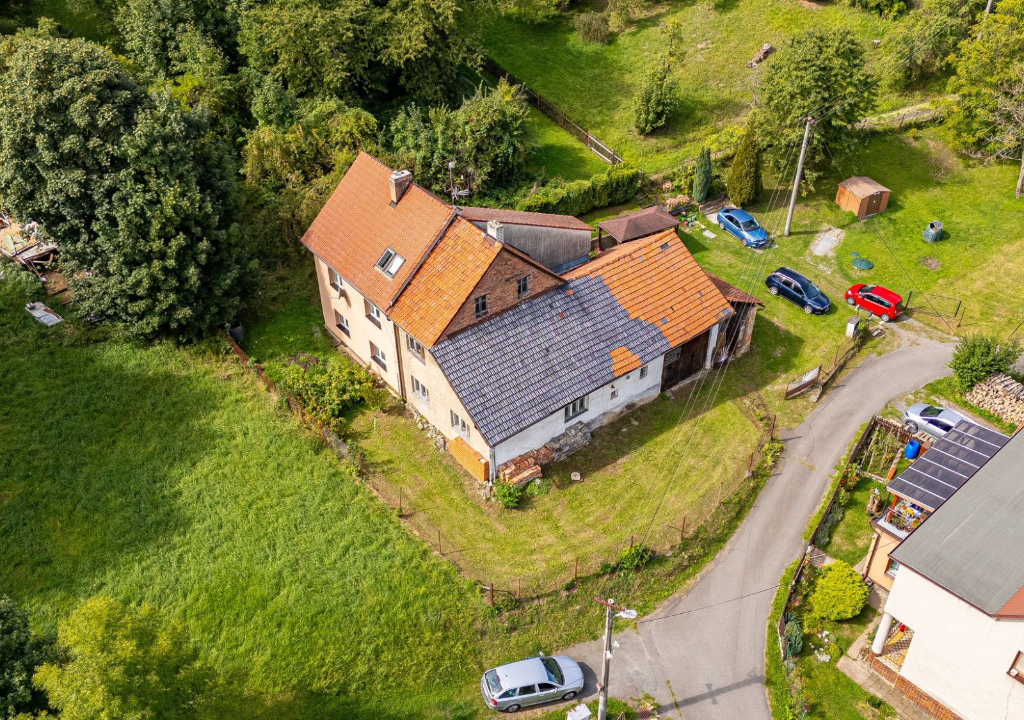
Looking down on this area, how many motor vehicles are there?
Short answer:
5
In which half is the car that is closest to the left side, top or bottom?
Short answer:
bottom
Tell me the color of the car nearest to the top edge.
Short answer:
blue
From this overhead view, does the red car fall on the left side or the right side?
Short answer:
right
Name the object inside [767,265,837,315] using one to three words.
car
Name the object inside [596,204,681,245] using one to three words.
gazebo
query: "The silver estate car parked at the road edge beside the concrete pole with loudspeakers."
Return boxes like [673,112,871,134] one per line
[481,648,591,713]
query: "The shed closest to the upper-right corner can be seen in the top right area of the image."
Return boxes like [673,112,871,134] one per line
[835,174,894,218]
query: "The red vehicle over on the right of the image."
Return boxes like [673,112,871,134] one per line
[846,282,911,322]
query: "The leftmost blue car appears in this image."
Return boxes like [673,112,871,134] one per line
[716,206,773,248]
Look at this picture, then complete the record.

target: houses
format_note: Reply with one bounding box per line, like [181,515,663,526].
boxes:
[867,440,1024,720]
[387,209,737,484]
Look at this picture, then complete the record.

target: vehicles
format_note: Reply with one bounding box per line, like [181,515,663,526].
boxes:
[767,265,837,315]
[481,648,591,713]
[716,206,773,248]
[846,282,911,322]
[904,405,975,448]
